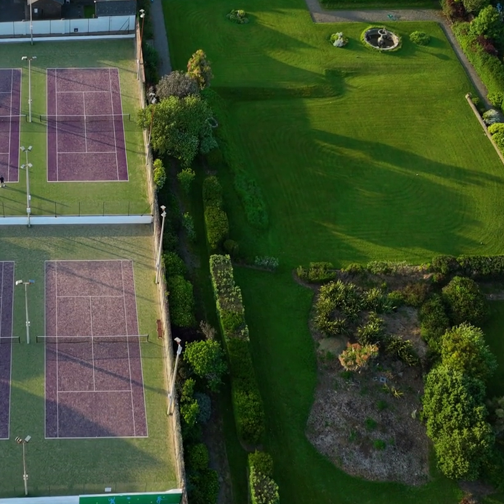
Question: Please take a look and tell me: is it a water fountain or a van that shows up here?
water fountain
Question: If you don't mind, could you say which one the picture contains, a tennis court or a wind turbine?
tennis court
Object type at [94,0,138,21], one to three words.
shed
